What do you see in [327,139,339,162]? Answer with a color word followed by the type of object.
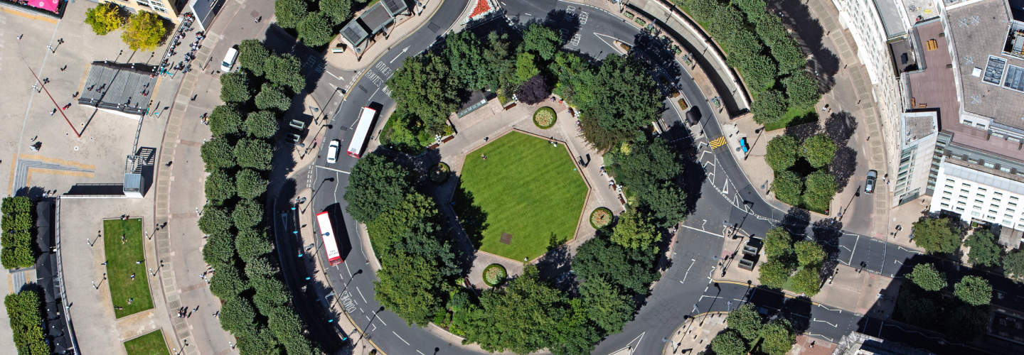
white vehicle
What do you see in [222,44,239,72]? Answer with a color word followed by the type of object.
white vehicle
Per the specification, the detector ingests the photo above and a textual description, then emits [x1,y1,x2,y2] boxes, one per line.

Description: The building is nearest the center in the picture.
[450,87,489,123]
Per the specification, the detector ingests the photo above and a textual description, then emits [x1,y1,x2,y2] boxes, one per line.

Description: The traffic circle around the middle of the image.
[316,0,718,355]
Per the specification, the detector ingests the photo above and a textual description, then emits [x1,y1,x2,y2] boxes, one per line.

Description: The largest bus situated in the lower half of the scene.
[316,212,342,264]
